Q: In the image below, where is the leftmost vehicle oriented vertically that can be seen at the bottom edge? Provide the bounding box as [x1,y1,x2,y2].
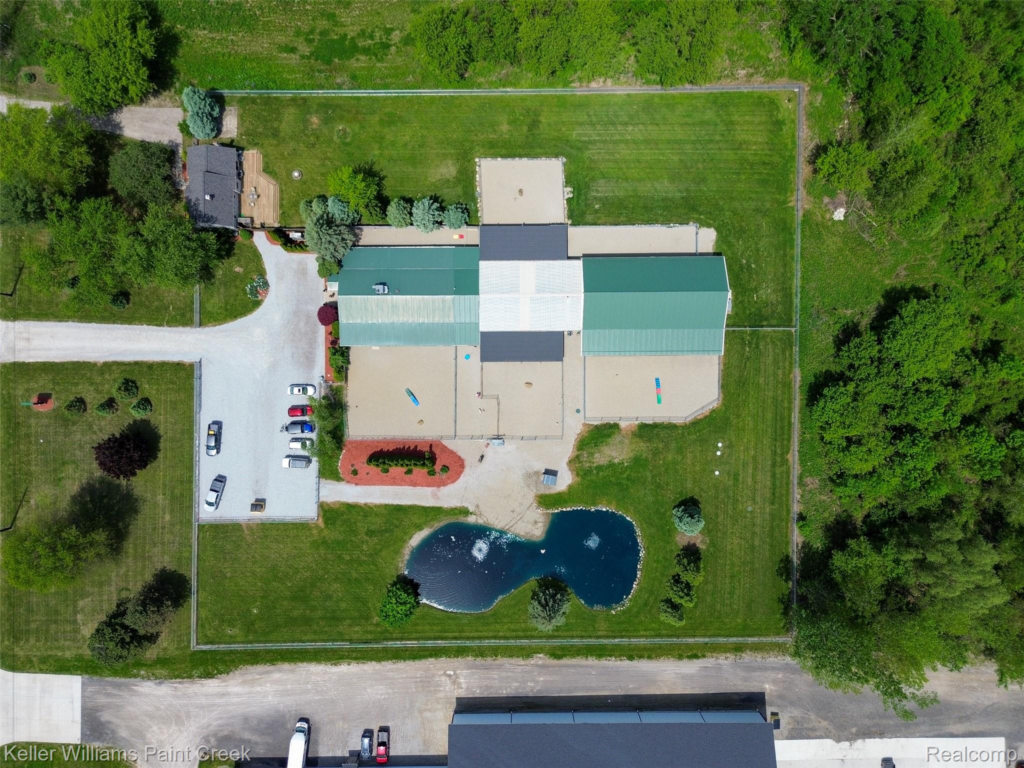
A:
[287,716,311,768]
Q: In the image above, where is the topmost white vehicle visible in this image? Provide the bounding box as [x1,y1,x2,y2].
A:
[288,383,318,397]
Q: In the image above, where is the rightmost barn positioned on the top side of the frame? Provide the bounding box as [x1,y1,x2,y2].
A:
[580,257,730,356]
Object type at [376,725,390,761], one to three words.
vehicle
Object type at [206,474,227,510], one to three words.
truck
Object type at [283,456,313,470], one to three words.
car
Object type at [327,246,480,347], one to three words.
building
